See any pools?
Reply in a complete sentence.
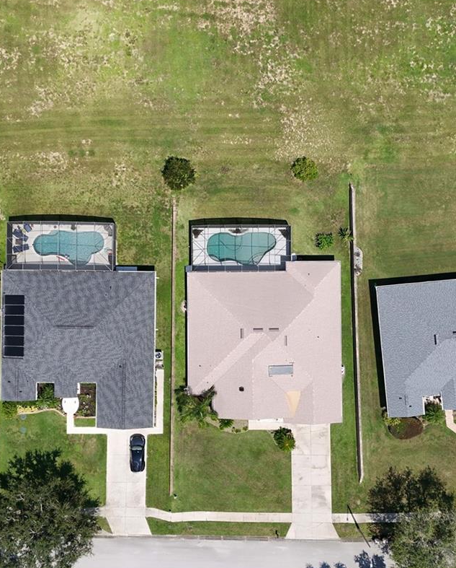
Yes, there's a pool down there.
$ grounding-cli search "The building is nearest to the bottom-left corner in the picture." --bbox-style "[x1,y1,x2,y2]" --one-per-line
[1,269,158,432]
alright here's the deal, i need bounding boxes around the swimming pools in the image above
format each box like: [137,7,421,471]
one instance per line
[30,228,107,269]
[205,230,278,268]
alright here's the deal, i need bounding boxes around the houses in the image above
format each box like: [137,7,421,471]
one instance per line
[1,269,158,432]
[375,278,456,417]
[186,261,342,426]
